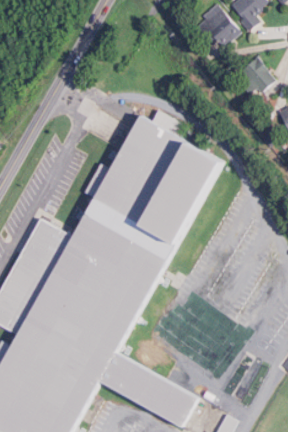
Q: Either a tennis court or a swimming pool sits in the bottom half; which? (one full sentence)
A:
You can see a tennis court in the bottom half.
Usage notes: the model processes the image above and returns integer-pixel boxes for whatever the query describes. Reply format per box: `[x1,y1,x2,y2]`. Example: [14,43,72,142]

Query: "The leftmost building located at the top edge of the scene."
[202,3,242,48]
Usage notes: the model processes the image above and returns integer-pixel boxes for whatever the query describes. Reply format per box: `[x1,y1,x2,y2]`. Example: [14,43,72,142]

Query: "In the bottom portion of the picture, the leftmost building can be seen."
[0,108,227,432]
